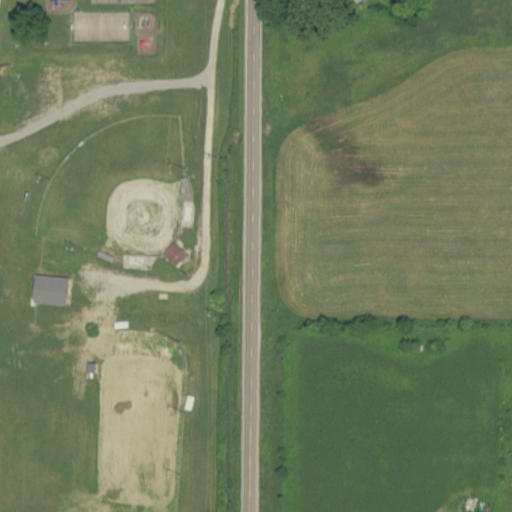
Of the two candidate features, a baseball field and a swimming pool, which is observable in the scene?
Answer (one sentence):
Visible in the photo is a baseball field.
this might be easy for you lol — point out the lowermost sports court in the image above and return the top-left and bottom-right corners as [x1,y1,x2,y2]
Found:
[74,12,130,42]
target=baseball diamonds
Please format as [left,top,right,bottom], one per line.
[106,178,182,253]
